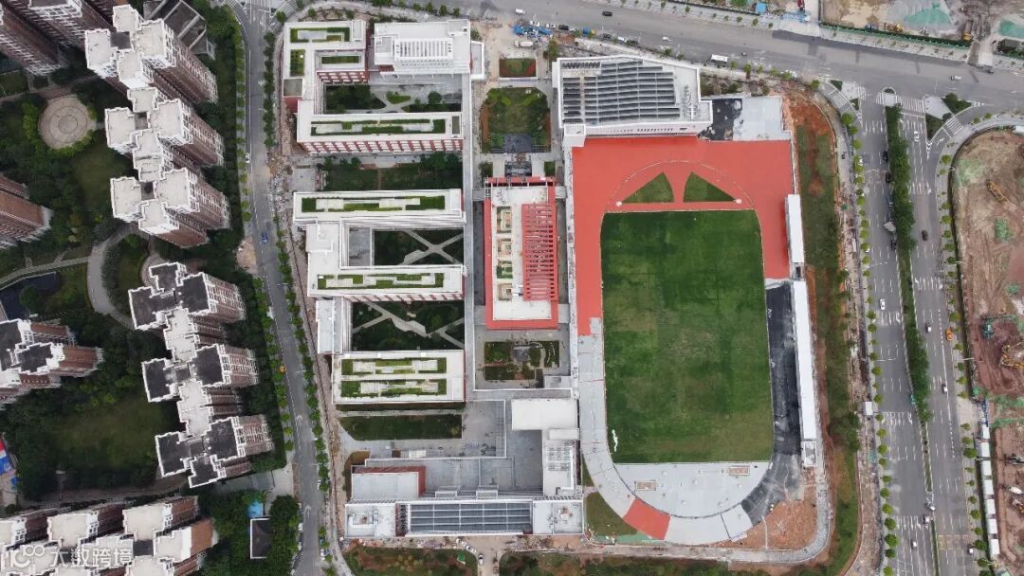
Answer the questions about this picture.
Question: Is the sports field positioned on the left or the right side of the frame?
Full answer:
The sports field appears in the right half of the scene.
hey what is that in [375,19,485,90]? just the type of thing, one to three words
building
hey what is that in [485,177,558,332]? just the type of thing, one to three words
building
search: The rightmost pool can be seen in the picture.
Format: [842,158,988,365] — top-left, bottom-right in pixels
[246,499,265,518]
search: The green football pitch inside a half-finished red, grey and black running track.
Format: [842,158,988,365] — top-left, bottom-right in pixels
[573,138,804,544]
